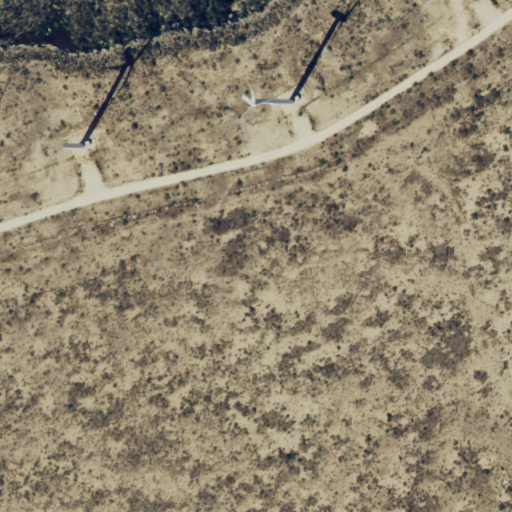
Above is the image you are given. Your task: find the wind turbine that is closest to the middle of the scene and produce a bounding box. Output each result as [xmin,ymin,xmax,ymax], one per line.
[222,76,296,130]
